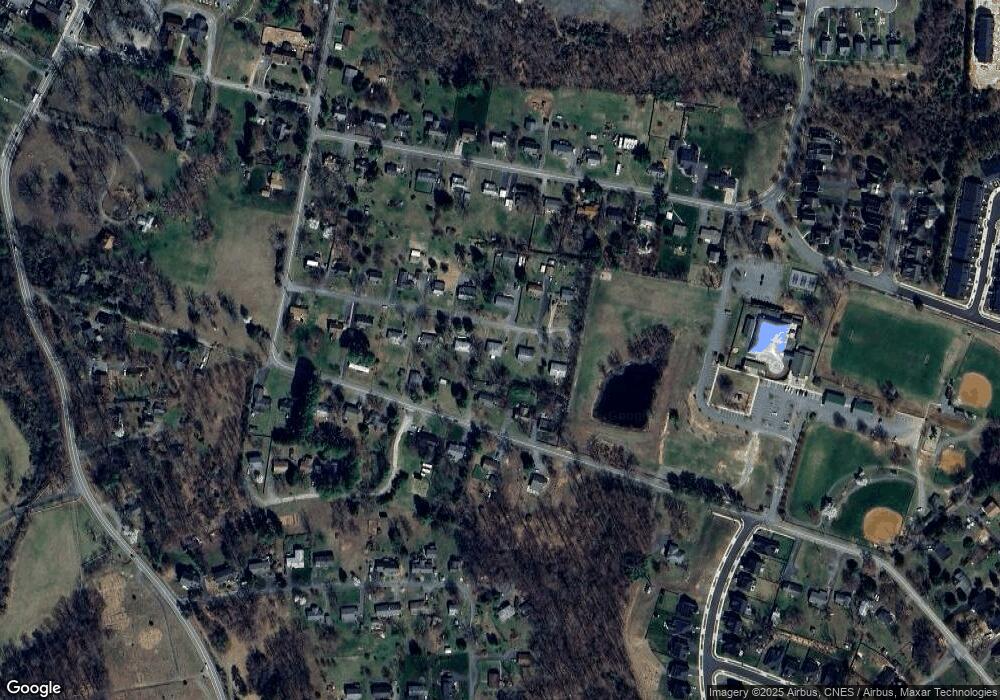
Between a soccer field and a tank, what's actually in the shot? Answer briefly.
soccer field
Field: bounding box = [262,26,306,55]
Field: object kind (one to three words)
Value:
building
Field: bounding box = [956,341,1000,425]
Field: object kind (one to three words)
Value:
baseball field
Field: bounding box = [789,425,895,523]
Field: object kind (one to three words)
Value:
sports field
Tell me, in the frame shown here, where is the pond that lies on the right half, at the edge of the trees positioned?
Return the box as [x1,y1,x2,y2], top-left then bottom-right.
[594,365,662,429]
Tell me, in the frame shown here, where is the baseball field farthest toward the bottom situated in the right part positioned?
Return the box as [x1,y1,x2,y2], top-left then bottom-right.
[834,480,913,550]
